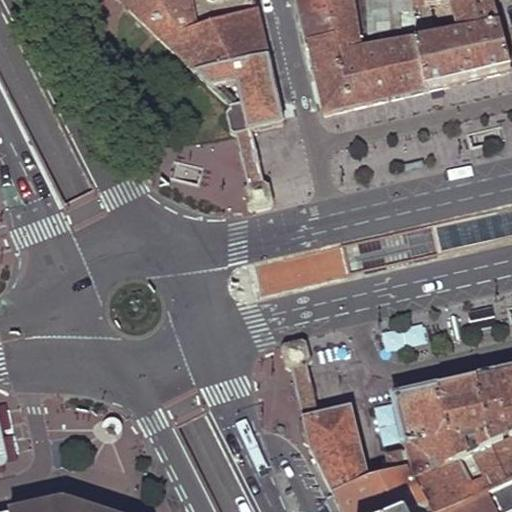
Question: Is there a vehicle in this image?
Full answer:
Yes, I can see a vehicle in this picture.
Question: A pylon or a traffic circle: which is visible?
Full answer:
This aerial view contains a traffic circle.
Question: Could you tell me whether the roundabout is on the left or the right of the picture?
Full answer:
It is on the left.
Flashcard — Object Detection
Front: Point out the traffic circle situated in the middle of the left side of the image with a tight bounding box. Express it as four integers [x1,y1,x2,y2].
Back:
[107,280,164,337]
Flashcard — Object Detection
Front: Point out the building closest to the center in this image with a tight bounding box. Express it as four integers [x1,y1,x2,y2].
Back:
[247,180,273,213]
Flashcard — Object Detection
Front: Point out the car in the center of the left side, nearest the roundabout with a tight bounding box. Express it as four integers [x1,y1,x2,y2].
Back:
[72,277,93,292]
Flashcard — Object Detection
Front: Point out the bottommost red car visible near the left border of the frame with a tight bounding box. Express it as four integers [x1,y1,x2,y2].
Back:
[16,176,32,199]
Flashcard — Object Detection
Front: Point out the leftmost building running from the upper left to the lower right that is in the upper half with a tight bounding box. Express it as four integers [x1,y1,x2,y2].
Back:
[122,0,228,66]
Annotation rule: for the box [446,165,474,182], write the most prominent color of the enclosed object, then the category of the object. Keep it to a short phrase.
white vehicle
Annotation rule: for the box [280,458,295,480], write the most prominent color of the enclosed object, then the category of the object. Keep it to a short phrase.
white car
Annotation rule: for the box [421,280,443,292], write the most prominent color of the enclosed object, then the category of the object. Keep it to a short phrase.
white vehicle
